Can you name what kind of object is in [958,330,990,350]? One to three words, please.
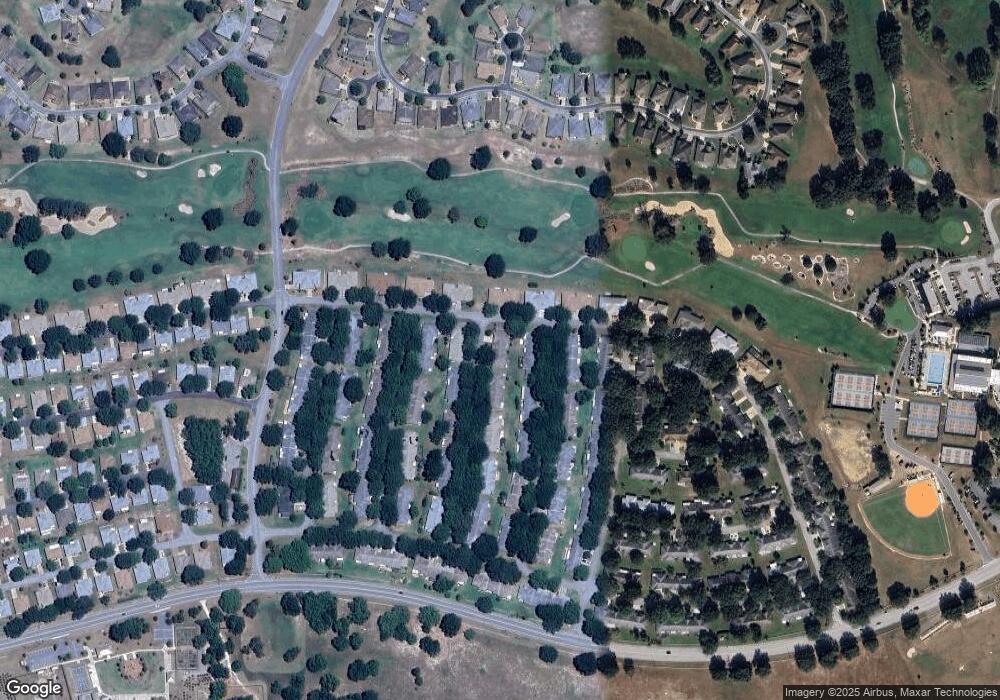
building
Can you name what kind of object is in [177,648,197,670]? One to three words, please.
tennis court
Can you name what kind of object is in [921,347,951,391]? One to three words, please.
swimming pool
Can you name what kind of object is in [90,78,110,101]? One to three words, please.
house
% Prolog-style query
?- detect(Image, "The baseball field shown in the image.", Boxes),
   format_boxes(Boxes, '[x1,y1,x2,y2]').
[857,472,952,559]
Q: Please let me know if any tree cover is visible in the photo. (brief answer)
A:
Yes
